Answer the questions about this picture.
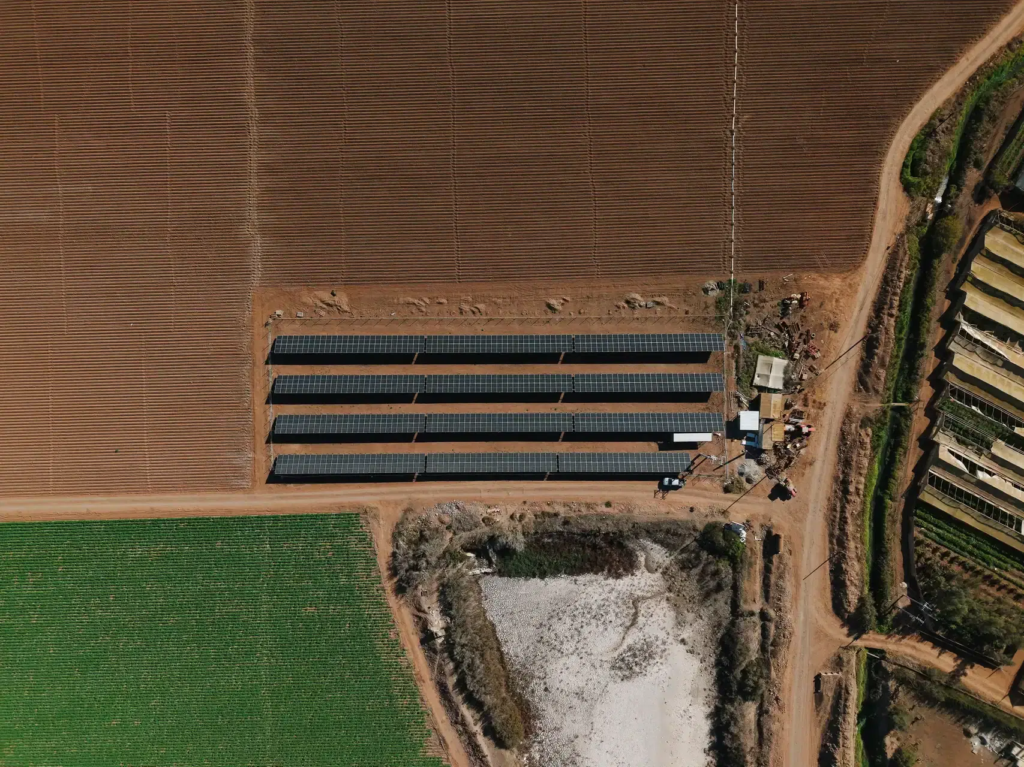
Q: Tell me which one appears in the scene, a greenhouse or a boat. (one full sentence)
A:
Visible in the photo is a greenhouse.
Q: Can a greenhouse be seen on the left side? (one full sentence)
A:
No, there is no greenhouse on the left side.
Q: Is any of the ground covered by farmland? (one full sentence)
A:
Yes, farmland can be seen from above here.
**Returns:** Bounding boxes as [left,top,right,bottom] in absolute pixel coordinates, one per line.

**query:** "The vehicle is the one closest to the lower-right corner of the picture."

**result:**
[780,476,797,496]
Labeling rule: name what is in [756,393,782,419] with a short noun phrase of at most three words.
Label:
shed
